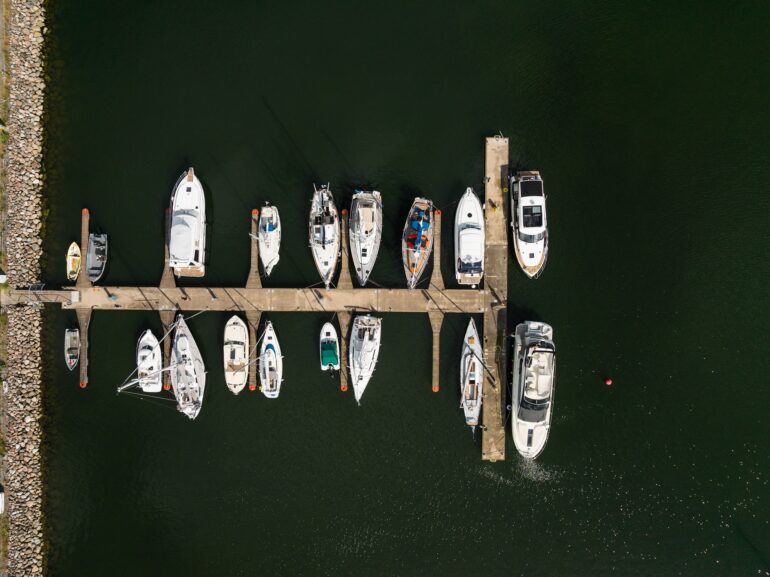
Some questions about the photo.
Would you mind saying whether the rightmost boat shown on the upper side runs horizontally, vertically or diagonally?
vertically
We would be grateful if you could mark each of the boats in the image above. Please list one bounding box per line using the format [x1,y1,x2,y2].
[400,198,436,289]
[461,317,497,437]
[303,182,344,289]
[169,163,211,278]
[239,321,286,398]
[223,316,252,394]
[453,186,487,284]
[86,228,109,282]
[508,320,554,461]
[506,171,550,280]
[247,203,283,276]
[347,190,384,287]
[320,322,341,373]
[115,315,209,418]
[346,314,383,408]
[64,325,80,370]
[65,242,80,283]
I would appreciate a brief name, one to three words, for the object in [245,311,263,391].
pier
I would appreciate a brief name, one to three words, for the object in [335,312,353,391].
pier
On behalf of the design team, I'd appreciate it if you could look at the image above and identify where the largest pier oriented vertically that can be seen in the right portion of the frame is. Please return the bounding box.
[482,131,509,463]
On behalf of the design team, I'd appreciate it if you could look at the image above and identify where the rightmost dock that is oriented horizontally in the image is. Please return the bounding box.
[64,287,482,312]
